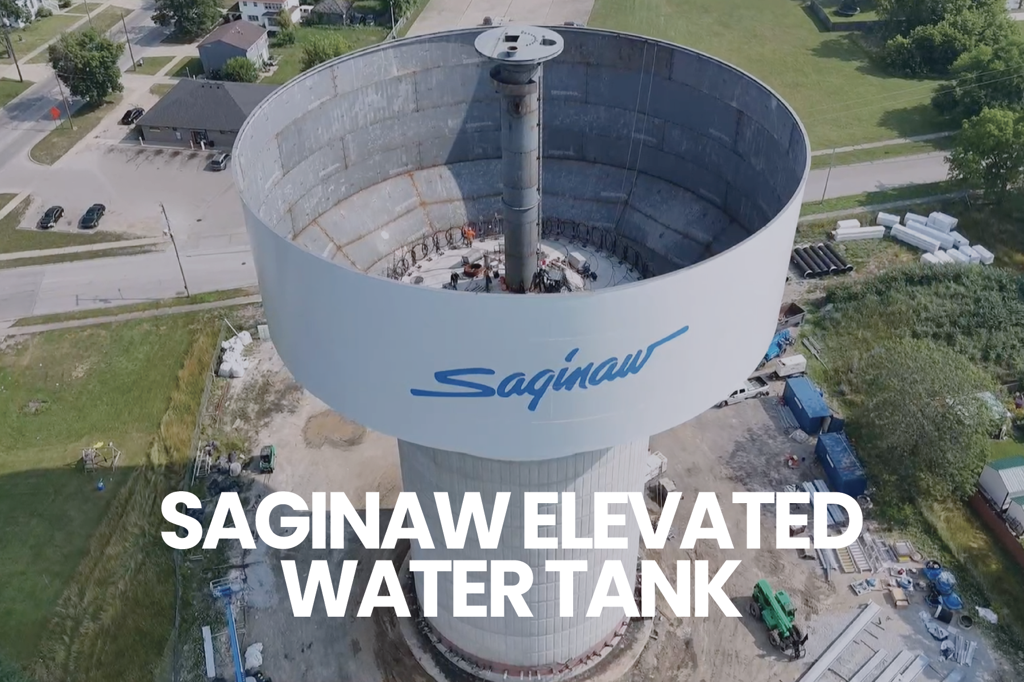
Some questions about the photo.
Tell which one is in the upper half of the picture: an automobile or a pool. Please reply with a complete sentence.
It is an automobile that can be seen in the upper half of the picture.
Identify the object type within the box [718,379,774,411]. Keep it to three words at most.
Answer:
truck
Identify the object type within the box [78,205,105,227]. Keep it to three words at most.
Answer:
car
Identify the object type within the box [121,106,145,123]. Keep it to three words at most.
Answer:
car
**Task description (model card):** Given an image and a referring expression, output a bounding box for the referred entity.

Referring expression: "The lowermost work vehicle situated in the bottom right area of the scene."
[743,581,803,666]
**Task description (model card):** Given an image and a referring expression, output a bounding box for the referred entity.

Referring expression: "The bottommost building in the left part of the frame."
[137,76,284,147]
